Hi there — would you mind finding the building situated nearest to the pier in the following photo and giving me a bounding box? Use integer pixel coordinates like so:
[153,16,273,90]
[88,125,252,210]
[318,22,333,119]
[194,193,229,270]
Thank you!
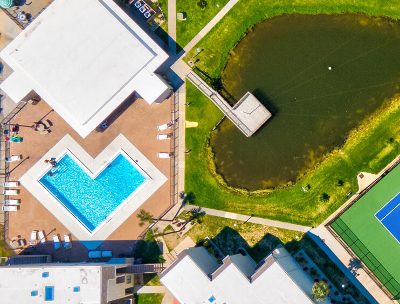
[0,0,171,139]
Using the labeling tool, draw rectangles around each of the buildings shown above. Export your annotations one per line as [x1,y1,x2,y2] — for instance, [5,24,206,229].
[0,261,143,304]
[159,245,335,304]
[0,0,171,139]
